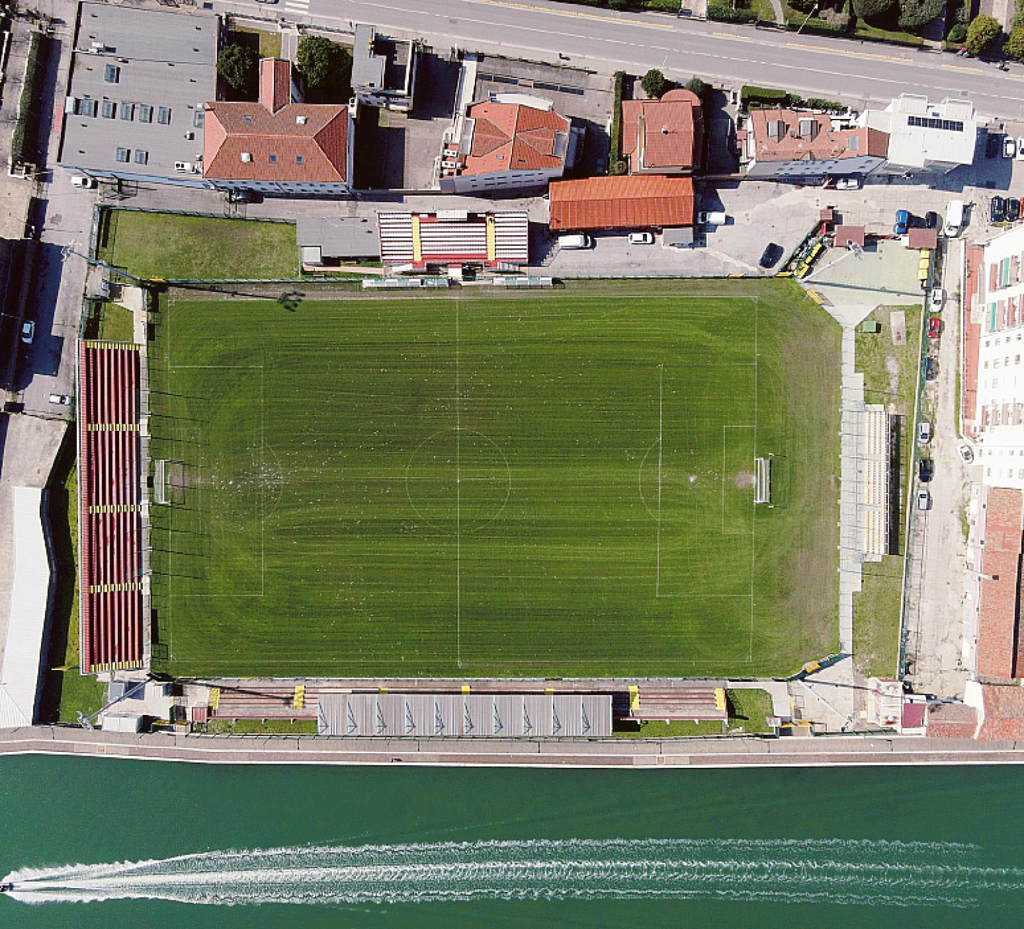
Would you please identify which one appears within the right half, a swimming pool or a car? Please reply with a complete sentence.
Looking within the right half, you will find a car.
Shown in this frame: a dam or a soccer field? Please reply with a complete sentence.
Looking from above, you can make out a soccer field.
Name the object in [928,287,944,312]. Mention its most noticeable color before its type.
white car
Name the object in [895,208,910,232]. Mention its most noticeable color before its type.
blue car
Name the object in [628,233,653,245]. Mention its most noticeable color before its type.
white vehicle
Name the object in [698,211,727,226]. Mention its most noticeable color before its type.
white vehicle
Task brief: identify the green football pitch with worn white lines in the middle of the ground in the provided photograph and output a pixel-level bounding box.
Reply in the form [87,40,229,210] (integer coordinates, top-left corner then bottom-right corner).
[149,279,840,678]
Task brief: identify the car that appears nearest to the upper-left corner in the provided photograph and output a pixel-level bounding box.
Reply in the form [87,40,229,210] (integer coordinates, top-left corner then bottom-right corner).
[71,176,95,189]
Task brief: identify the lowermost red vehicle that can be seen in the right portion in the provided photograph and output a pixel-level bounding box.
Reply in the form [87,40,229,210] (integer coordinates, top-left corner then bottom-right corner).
[927,316,942,340]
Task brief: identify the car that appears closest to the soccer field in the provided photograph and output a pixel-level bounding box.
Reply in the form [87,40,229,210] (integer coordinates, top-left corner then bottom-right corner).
[761,243,781,269]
